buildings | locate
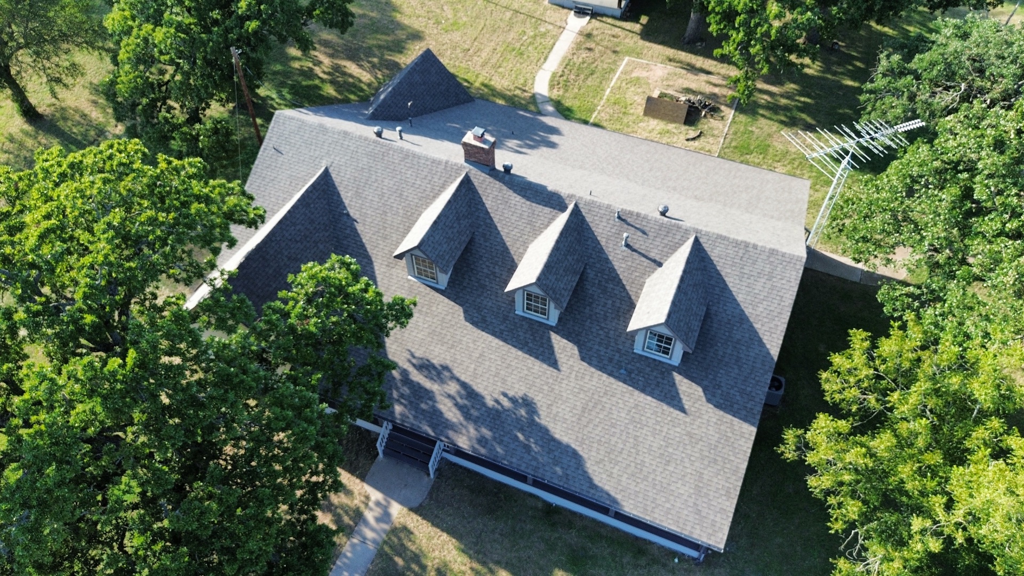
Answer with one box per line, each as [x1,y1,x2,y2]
[170,49,811,569]
[546,0,631,17]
